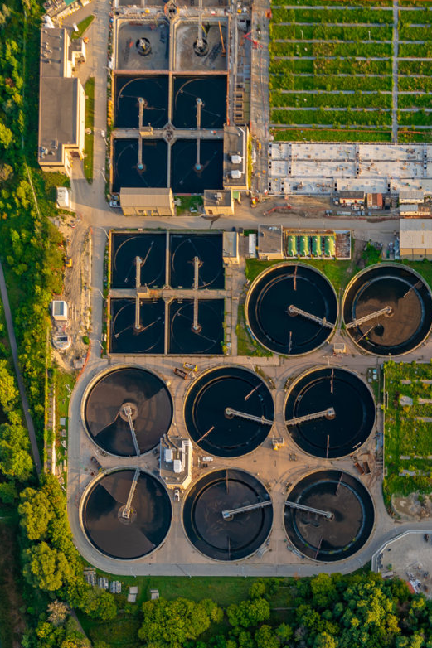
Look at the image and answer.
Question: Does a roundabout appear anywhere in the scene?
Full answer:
No, no roundabout is visible in the scene.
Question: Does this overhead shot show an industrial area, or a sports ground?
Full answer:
This looks like an industrial area.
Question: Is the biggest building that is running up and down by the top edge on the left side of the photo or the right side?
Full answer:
The biggest building that is running up and down by the top edge appears in the left half of the scene.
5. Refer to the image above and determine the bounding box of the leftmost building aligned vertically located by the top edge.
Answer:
[38,28,86,175]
